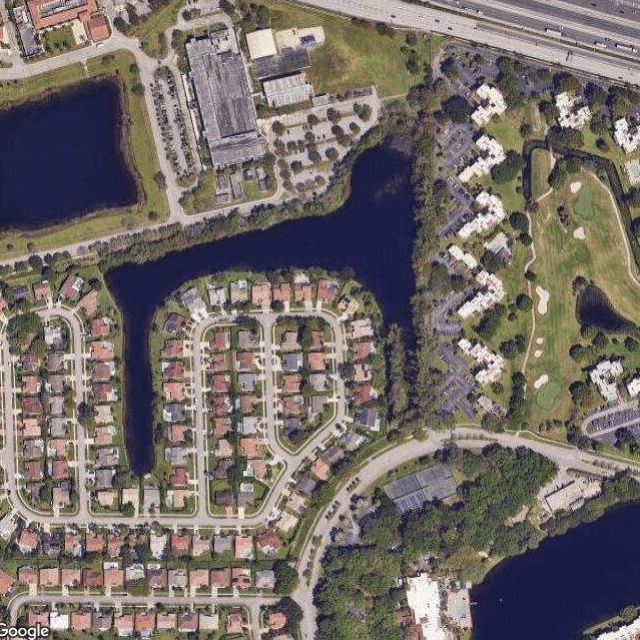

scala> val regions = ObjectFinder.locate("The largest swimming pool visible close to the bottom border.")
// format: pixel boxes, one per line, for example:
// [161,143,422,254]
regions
[448,589,471,627]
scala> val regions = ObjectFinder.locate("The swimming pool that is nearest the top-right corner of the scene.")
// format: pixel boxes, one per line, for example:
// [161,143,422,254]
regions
[625,159,640,185]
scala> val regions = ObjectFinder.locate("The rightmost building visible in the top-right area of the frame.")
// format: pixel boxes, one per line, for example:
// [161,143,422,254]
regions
[614,118,640,154]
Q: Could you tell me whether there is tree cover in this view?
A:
Yes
